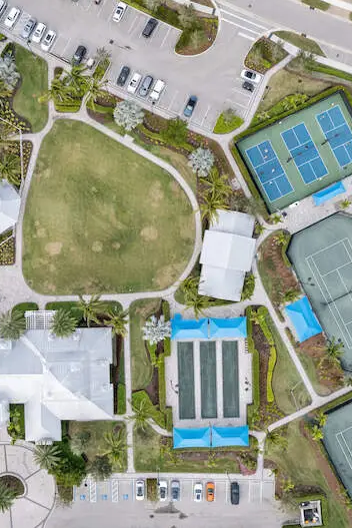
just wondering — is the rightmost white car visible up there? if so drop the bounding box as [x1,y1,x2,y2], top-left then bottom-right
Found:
[240,69,261,81]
